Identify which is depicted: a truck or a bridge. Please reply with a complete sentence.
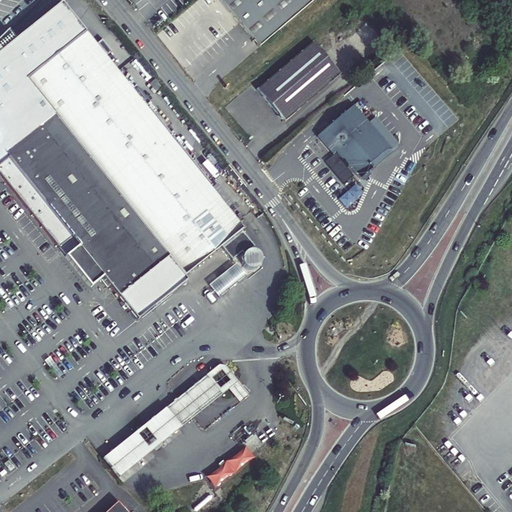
The one in the frame is a truck.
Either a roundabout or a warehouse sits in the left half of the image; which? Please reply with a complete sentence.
Looking in the left half of the image, you will find a warehouse.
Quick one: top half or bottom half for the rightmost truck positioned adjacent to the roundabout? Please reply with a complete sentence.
The rightmost truck positioned adjacent to the roundabout sits in the bottom half of the picture.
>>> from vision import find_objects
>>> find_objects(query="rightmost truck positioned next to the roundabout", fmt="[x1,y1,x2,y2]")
[452,369,486,402]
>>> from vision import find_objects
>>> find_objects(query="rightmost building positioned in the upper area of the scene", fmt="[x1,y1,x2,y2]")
[318,104,398,208]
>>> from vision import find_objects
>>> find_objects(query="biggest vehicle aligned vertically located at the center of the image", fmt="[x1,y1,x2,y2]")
[300,262,316,303]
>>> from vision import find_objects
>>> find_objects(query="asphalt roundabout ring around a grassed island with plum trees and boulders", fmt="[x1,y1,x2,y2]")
[296,282,434,420]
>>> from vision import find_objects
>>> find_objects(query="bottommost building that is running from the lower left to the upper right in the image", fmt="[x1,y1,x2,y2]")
[104,362,248,476]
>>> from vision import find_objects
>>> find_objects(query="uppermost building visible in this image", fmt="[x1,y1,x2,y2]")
[222,0,316,48]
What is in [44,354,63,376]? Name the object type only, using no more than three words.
vehicle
